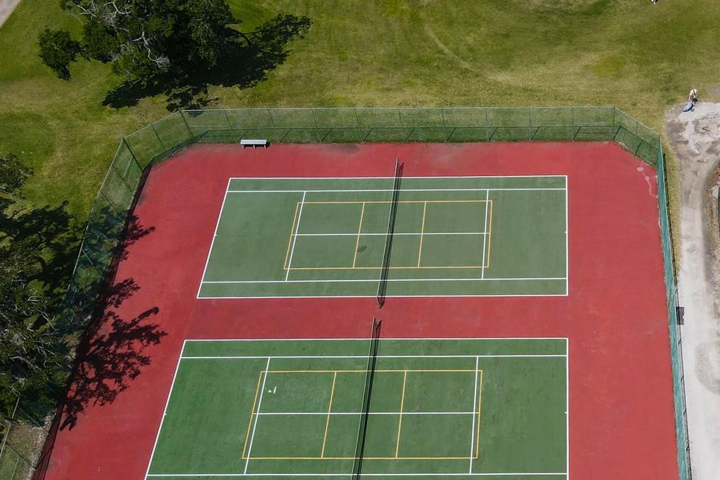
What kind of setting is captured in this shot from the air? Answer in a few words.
sports ground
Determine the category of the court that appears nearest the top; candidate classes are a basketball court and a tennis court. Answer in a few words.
tennis court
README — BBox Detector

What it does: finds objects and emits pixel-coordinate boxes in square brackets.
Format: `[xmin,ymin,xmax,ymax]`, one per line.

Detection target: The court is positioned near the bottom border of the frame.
[145,337,569,480]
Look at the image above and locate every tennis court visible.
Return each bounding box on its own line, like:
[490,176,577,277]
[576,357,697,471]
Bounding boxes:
[197,175,569,298]
[145,337,569,480]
